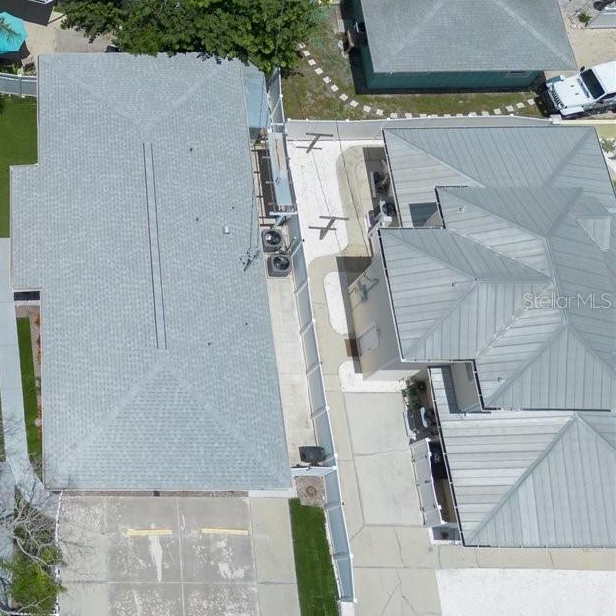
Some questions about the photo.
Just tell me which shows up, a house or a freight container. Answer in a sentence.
Visible in the photo is a house.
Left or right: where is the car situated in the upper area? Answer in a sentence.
It is on the right.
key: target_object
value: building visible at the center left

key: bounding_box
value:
[10,53,295,493]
